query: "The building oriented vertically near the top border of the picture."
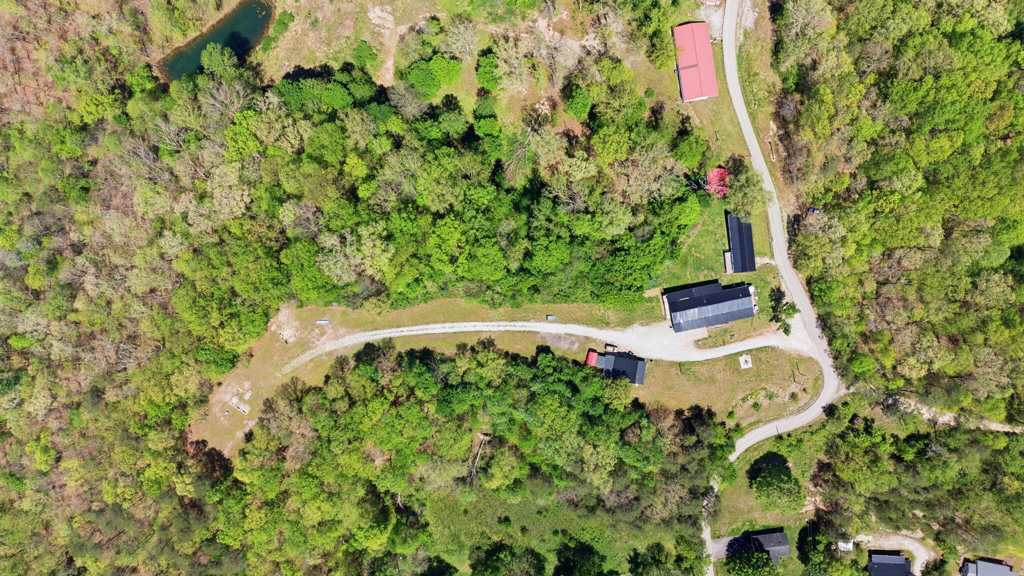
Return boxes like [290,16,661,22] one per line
[673,21,717,100]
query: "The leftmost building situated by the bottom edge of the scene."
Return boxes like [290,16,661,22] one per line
[749,531,790,564]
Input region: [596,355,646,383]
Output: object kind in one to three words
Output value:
building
